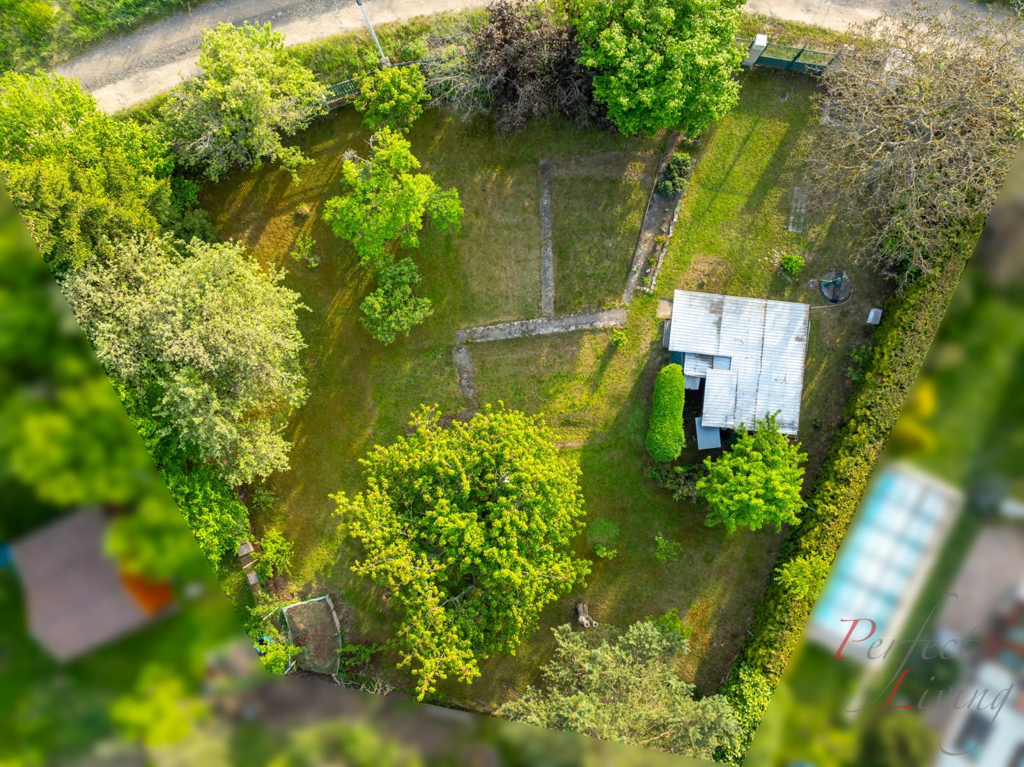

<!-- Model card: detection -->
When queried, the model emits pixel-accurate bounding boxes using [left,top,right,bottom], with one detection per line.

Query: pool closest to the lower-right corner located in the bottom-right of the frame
[812,470,962,672]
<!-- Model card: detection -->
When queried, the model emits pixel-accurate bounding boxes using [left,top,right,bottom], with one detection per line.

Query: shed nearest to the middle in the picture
[660,289,811,438]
